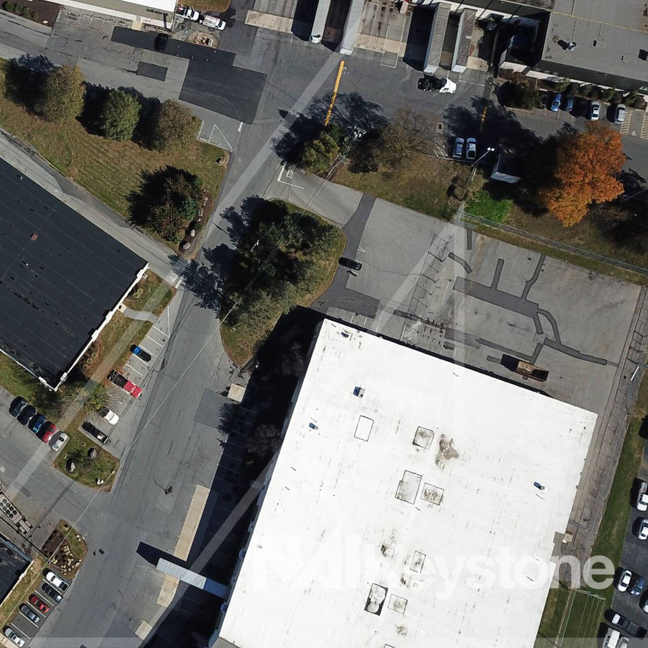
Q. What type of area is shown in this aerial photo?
industrial area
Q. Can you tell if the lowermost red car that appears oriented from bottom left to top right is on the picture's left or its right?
left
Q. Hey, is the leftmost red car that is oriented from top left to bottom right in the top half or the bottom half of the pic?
bottom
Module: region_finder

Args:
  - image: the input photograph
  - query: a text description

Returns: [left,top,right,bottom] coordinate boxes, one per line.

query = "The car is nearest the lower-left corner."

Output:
[4,625,25,647]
